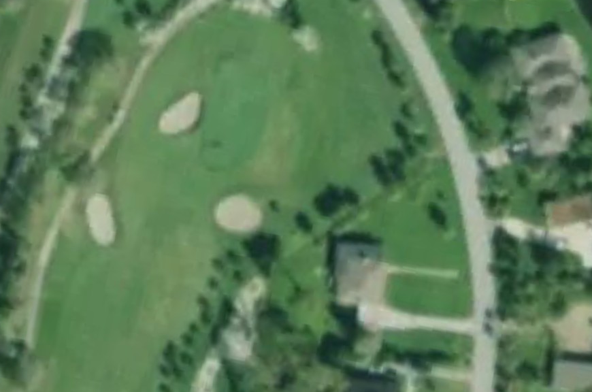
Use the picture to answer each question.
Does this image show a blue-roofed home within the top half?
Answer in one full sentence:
No, within the top half there is no blue-roofed home.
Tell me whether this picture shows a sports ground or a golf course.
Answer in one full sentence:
This looks like a golf course.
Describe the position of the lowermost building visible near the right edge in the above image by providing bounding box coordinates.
[555,360,592,392]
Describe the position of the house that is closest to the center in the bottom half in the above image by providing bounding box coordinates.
[335,241,382,306]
